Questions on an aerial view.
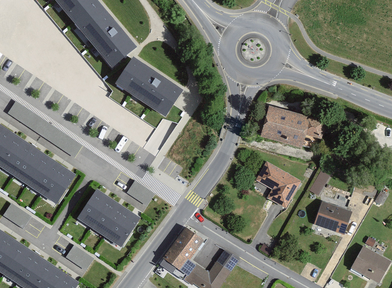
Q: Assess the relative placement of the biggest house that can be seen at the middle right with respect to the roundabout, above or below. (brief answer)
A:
below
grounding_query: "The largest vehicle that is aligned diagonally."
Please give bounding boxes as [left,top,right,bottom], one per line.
[114,136,128,152]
